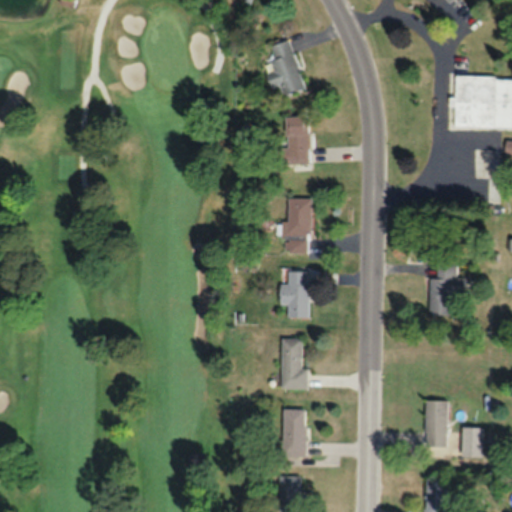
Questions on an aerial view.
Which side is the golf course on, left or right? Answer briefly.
left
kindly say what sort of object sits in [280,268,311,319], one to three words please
house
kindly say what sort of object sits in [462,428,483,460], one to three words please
building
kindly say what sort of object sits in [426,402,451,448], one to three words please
house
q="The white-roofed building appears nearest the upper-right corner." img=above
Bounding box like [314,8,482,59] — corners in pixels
[450,74,512,130]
